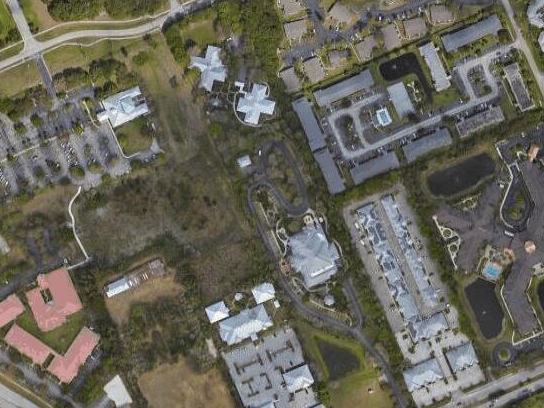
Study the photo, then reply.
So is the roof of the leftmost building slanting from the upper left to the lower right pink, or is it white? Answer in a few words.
pink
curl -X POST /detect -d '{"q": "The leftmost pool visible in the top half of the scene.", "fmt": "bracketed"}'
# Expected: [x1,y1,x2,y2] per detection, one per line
[377,108,391,126]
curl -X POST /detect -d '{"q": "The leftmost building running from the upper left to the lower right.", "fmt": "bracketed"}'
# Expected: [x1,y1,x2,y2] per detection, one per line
[6,327,50,363]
